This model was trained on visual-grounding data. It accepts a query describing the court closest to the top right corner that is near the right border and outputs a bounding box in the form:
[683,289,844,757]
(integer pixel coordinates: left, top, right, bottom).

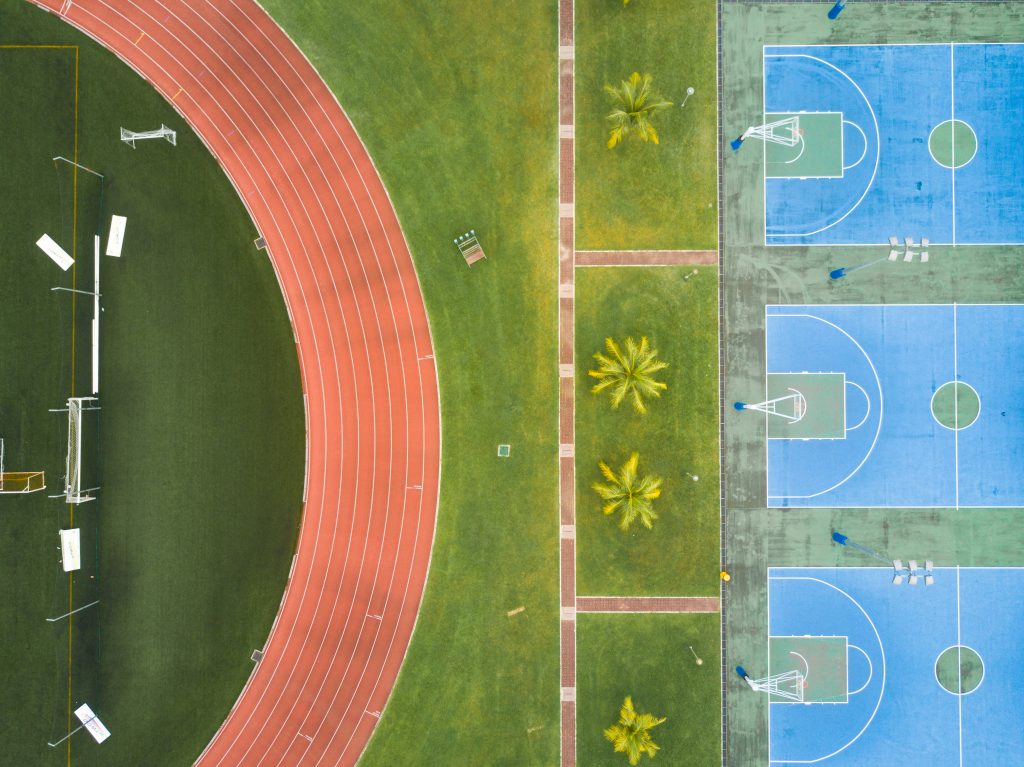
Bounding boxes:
[763,42,1024,247]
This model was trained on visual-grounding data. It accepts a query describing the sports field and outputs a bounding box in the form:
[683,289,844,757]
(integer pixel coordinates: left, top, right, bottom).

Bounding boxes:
[0,0,306,767]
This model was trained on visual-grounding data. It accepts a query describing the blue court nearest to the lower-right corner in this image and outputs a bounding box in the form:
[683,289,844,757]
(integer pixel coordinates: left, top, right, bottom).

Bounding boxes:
[768,566,1024,767]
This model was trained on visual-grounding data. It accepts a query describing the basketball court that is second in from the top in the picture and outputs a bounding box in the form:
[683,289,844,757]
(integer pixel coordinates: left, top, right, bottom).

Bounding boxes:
[766,302,1024,509]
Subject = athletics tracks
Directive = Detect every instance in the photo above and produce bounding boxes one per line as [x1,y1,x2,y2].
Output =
[25,0,441,767]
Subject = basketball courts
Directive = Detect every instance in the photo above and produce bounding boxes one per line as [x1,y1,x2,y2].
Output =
[766,302,1024,509]
[763,42,1024,247]
[768,566,1024,767]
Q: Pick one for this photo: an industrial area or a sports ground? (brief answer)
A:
sports ground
